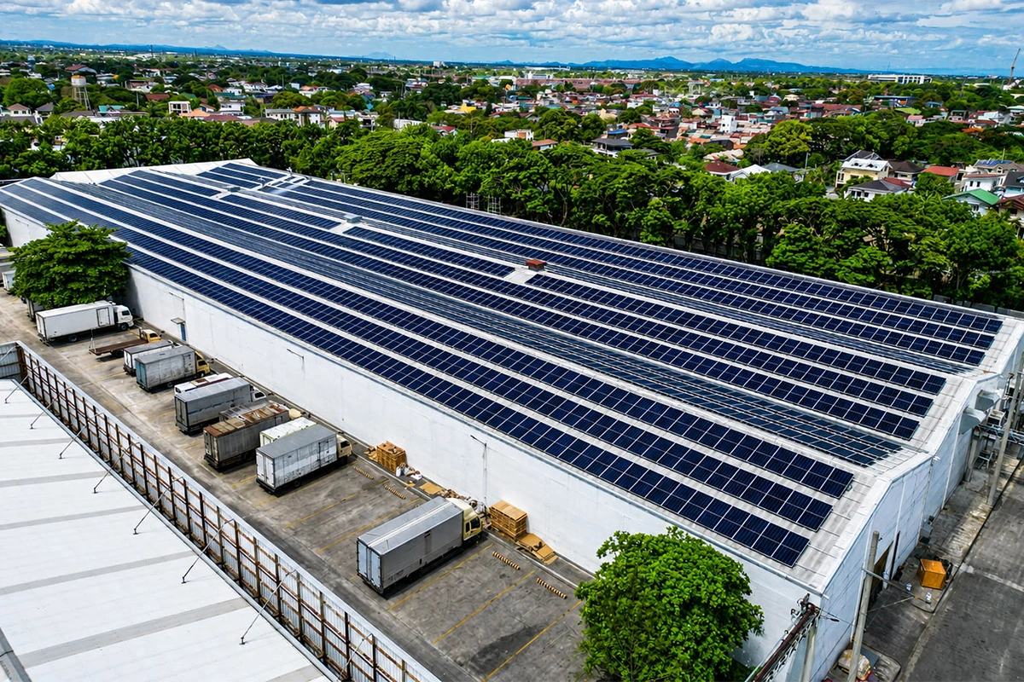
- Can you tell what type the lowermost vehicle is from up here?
truck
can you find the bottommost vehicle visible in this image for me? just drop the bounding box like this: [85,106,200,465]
[355,491,491,587]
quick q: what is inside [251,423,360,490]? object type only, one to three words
truck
